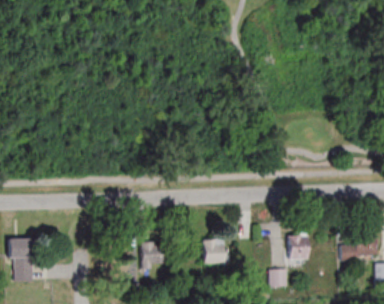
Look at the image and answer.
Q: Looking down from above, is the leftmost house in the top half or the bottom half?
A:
bottom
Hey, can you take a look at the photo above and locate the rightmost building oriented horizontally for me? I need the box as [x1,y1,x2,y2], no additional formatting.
[340,244,380,261]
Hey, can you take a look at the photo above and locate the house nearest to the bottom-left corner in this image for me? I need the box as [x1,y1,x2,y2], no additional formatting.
[10,238,32,282]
